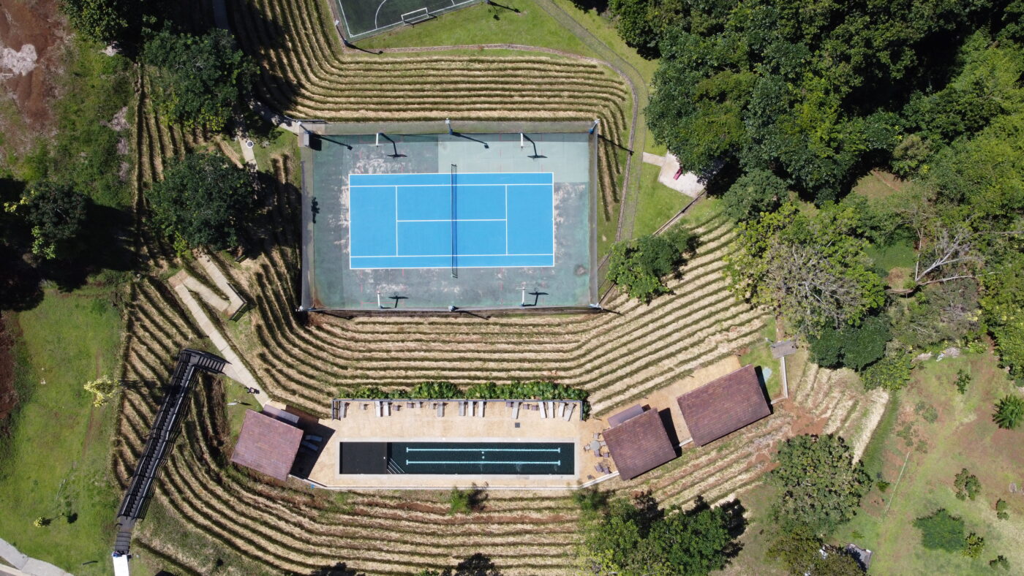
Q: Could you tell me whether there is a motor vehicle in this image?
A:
No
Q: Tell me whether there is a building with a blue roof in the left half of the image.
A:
No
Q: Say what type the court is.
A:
tennis court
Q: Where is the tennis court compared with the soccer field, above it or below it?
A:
below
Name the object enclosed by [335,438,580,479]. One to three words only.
swimming pool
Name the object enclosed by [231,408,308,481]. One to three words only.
building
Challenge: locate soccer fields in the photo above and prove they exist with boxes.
[335,0,485,41]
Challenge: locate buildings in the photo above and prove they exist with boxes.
[602,407,677,481]
[676,365,771,447]
[231,408,308,481]
[842,539,872,573]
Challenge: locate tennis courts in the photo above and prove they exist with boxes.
[312,132,591,309]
